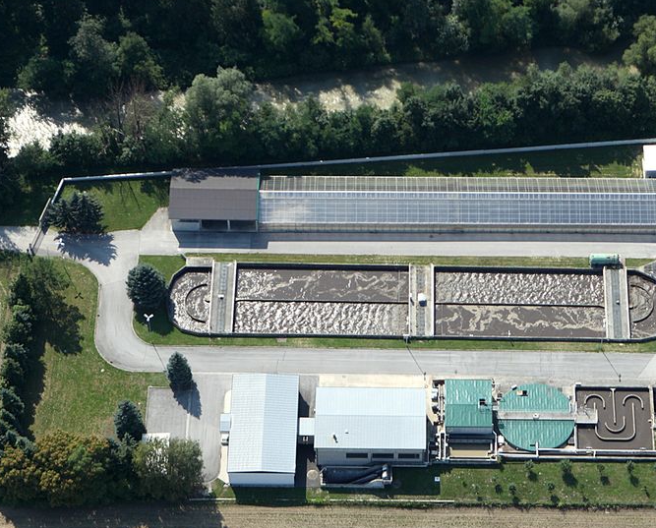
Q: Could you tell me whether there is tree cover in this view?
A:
Yes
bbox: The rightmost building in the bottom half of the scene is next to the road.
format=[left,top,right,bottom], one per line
[444,380,493,435]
